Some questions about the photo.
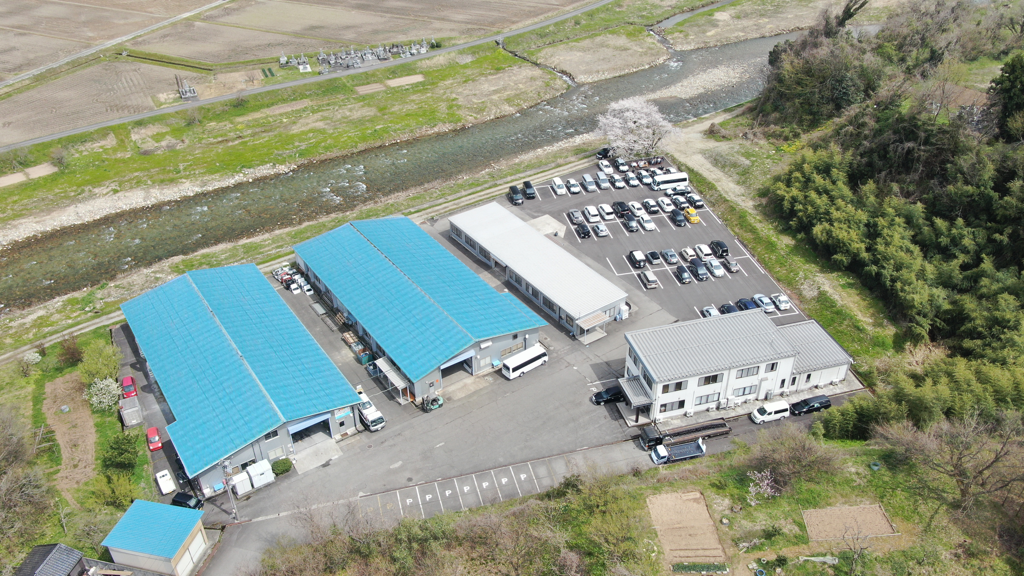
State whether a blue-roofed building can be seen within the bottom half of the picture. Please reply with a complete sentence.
Yes, the scene does show a blue-roofed building within the bottom half of the picture.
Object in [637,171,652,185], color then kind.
white car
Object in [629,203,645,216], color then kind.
white vehicle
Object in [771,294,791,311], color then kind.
white vehicle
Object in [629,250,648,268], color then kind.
white car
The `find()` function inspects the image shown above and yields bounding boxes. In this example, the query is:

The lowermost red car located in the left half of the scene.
[145,426,164,454]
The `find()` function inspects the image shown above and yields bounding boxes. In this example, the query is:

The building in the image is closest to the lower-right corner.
[616,306,859,421]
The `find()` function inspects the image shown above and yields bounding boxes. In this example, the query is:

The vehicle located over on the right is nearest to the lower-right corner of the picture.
[789,395,834,416]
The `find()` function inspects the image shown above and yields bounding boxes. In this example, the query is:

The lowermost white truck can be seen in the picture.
[153,467,177,498]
